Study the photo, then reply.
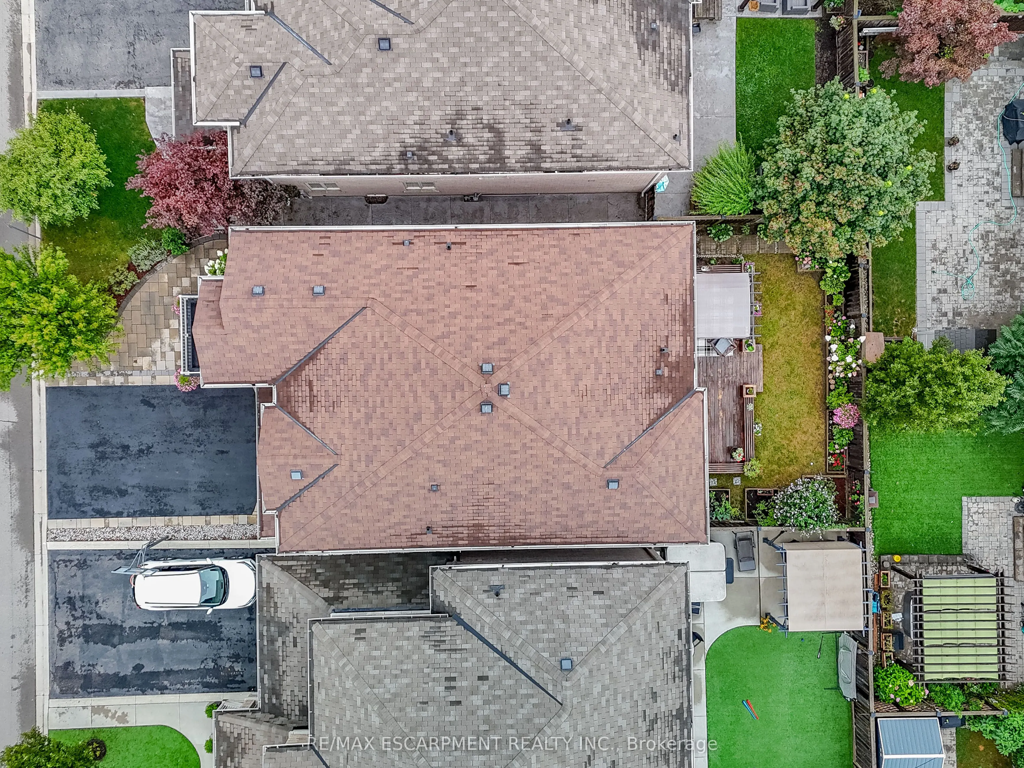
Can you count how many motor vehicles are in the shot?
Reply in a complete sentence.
The picture shows just 1 motor vehicle.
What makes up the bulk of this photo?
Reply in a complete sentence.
Most of the picture is covered by buildings.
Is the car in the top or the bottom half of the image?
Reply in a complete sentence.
Seen from above, the car lies in the bottom half of the view.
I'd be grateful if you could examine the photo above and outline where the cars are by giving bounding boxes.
[128,554,258,618]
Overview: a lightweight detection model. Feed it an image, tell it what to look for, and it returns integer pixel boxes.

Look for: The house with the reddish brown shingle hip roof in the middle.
[178,220,709,553]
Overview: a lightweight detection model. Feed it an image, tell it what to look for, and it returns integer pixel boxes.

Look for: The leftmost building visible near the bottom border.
[213,548,692,768]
